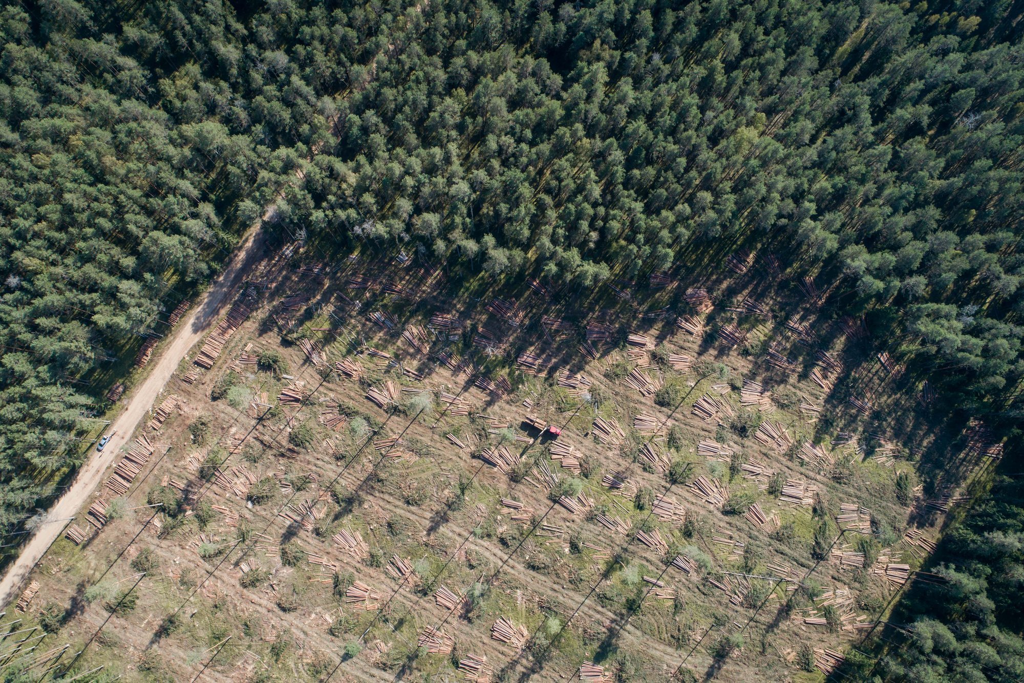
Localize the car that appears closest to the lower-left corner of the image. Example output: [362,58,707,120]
[95,434,112,453]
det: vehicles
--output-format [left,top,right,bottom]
[530,413,561,443]
[95,434,112,453]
